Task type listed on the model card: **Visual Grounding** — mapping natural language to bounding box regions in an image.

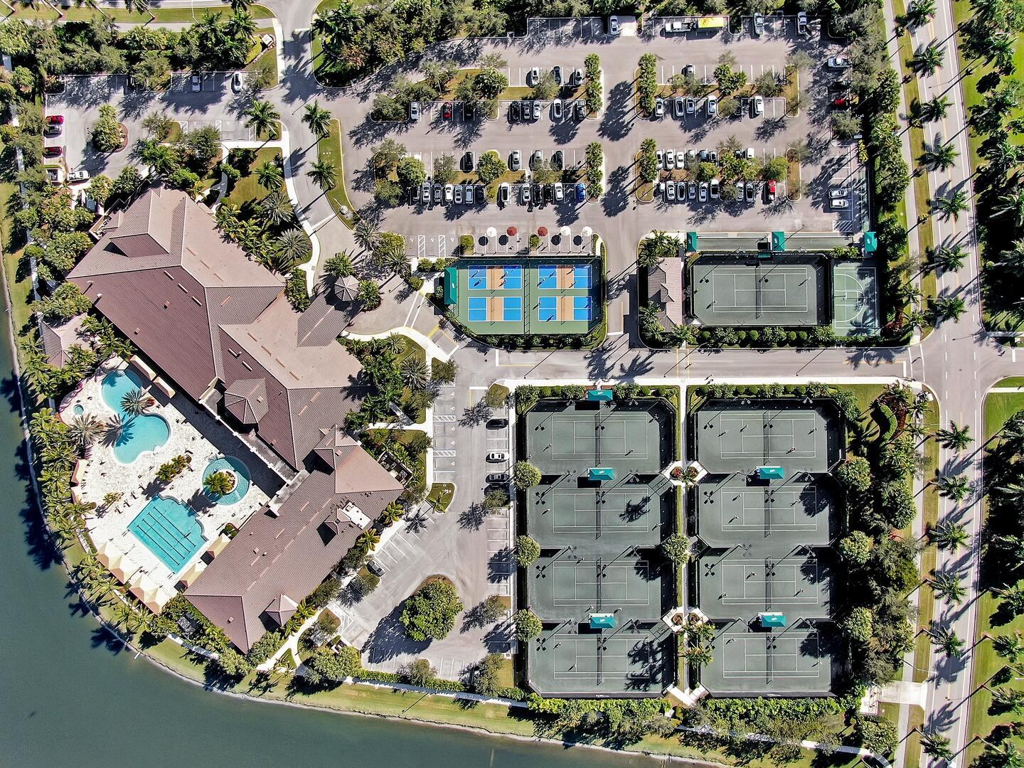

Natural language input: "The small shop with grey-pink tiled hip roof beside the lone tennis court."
[648,257,682,325]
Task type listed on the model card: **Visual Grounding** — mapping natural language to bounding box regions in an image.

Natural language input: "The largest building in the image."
[65,181,404,655]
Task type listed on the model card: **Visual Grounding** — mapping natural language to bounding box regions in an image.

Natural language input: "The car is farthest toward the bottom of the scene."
[367,559,386,577]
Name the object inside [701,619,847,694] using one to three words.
tennis court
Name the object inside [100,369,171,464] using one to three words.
swimming pool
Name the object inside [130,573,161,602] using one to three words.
tent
